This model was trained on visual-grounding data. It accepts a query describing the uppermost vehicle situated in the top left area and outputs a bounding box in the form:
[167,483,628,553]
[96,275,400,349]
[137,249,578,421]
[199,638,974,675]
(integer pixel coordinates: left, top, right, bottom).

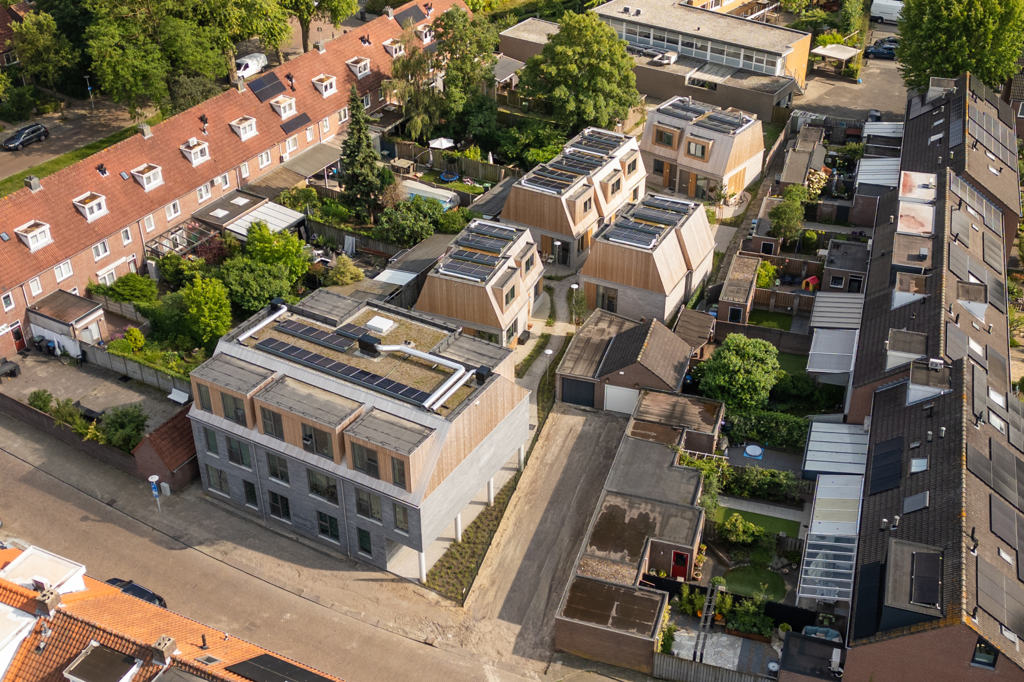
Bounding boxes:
[233,50,269,78]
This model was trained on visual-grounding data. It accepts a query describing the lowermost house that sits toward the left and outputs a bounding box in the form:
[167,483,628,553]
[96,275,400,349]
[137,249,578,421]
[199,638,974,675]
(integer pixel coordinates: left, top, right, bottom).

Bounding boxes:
[0,538,355,682]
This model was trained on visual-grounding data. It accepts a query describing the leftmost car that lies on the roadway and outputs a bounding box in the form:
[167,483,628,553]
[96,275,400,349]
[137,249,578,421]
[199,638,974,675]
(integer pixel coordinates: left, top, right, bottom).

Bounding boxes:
[0,123,50,151]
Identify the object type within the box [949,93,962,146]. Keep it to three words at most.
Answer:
solar array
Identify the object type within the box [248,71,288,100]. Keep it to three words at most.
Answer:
solar array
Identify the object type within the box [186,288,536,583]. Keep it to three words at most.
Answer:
building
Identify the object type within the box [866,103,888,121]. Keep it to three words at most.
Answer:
car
